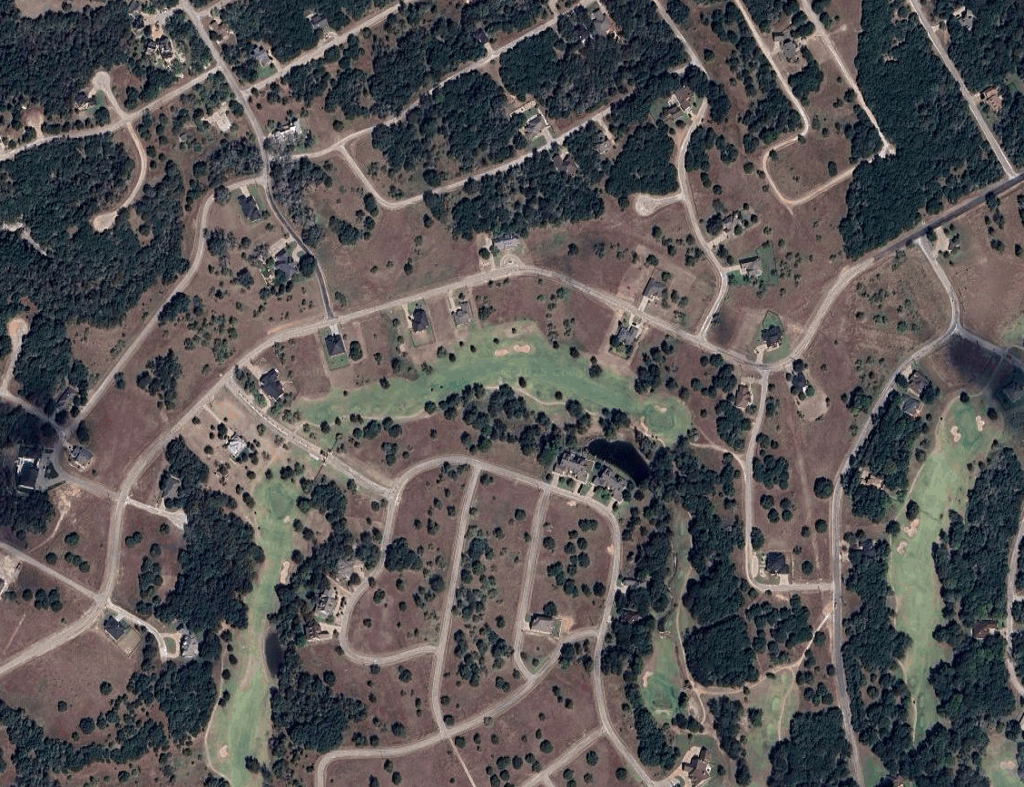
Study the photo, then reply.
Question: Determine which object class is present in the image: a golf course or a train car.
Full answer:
This aerial view contains a golf course.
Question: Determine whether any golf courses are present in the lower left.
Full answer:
Yes, a golf course appears in the lower left.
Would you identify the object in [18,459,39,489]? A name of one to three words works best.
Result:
house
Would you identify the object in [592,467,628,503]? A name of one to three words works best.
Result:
house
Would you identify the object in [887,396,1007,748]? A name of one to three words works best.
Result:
golf course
